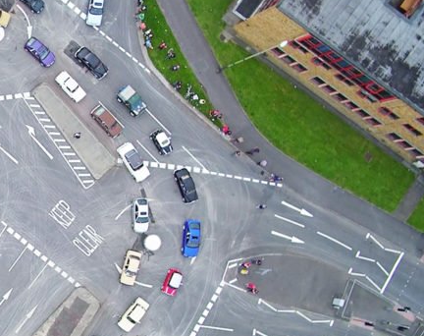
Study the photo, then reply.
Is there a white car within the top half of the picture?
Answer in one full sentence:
Yes, a white car can be seen within the top half of the picture.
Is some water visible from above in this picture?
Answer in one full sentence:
No, no water is visible.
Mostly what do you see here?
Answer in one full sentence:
For the most part, this view shows paved ground.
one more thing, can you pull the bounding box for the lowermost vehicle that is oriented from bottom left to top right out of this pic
[115,293,149,334]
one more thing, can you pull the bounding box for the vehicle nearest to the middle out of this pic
[169,167,199,205]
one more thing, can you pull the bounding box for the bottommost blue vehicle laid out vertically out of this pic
[179,217,201,259]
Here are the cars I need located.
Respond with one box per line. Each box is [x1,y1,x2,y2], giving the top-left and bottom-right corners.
[111,81,149,119]
[113,139,153,185]
[70,44,110,83]
[179,217,201,259]
[115,293,149,334]
[86,0,106,28]
[146,127,175,159]
[159,266,183,297]
[169,167,199,205]
[117,247,141,288]
[17,0,47,15]
[87,102,124,140]
[21,35,57,71]
[51,68,88,105]
[130,197,149,235]
[0,9,13,31]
